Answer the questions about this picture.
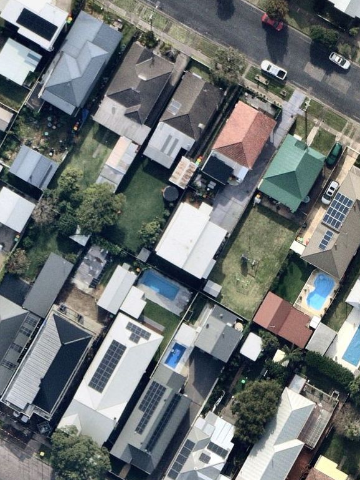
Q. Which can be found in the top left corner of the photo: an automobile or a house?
house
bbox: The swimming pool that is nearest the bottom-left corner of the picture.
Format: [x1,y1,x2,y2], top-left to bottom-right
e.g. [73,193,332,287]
[164,343,189,370]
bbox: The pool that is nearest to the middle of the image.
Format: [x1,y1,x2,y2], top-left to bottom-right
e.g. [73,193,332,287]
[139,267,182,303]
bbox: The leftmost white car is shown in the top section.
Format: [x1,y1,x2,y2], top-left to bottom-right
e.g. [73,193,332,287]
[261,61,286,80]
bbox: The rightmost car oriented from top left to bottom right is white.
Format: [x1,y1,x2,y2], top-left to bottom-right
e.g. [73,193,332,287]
[328,52,352,70]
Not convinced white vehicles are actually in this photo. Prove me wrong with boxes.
[328,52,352,70]
[261,61,286,80]
[321,180,339,205]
